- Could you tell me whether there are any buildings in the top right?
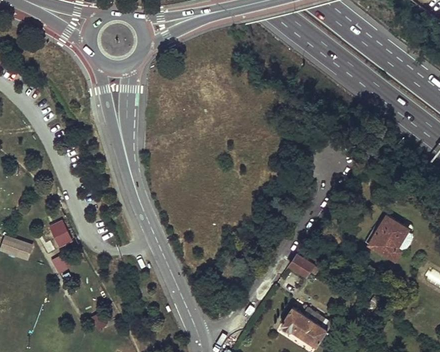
No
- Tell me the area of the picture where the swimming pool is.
bottom right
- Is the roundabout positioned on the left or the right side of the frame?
left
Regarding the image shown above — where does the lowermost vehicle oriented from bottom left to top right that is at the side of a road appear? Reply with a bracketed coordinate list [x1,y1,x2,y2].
[213,332,228,352]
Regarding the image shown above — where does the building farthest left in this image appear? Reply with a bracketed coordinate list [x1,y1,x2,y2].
[0,236,34,260]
